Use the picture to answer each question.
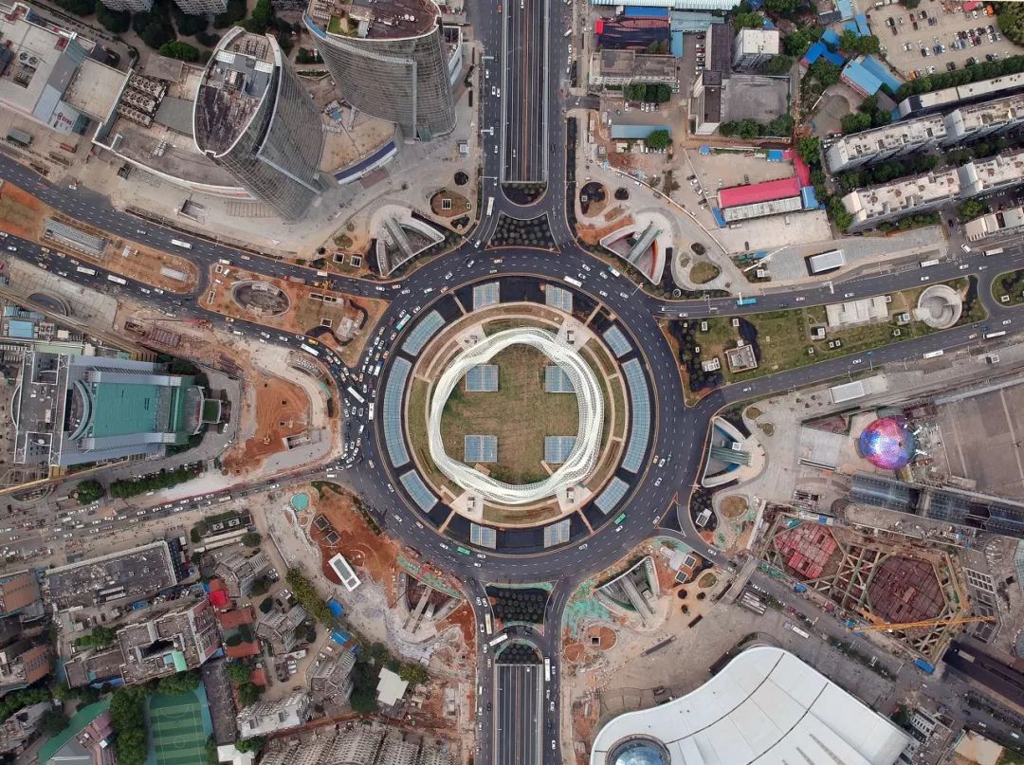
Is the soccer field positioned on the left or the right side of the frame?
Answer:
left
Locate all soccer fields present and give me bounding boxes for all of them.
[145,685,215,765]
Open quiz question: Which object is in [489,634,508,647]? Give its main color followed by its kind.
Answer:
white vehicle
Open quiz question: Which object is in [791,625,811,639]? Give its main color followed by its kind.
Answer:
white vehicle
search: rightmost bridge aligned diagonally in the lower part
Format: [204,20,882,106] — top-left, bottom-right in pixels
[722,557,759,603]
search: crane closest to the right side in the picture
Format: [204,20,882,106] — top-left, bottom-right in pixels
[841,609,995,635]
